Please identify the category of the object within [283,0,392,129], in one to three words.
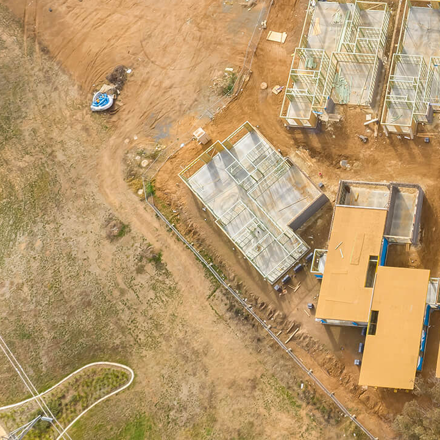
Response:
house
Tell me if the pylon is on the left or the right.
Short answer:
left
